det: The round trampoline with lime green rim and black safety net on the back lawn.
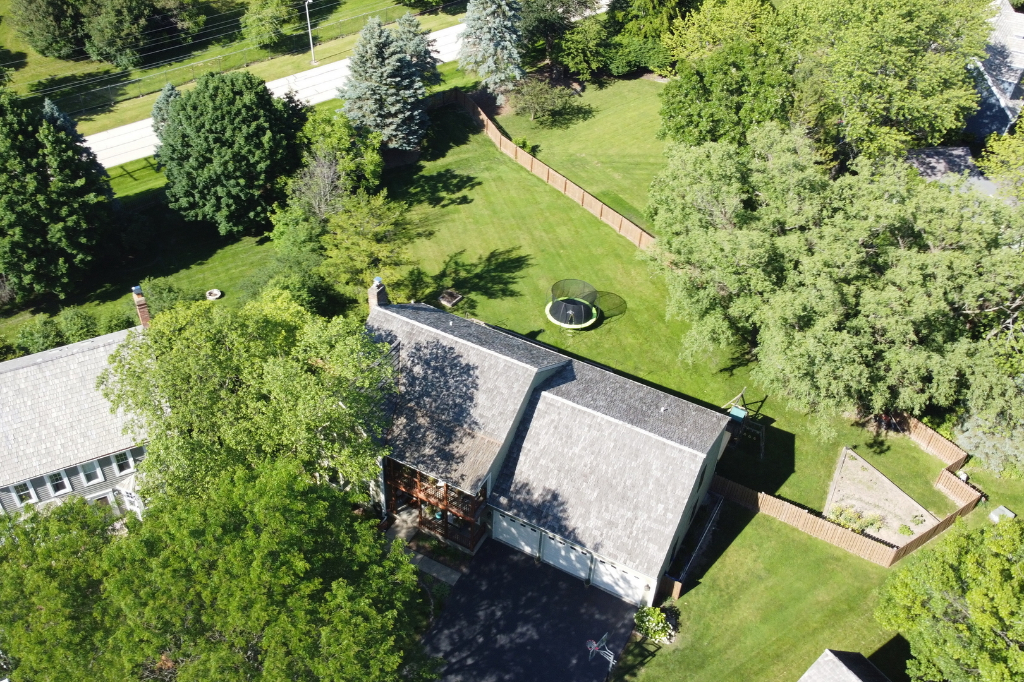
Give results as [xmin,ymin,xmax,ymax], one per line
[544,279,600,342]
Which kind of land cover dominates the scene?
trees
